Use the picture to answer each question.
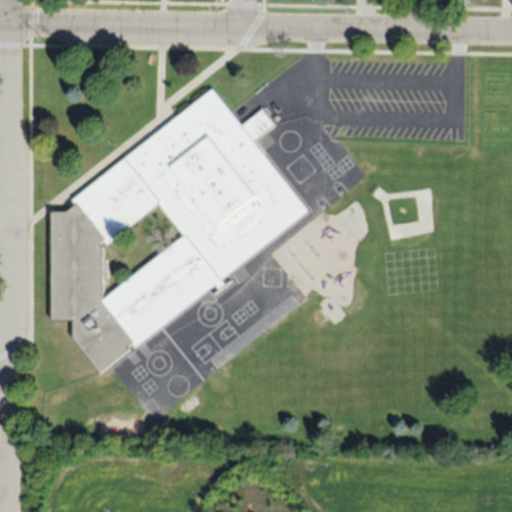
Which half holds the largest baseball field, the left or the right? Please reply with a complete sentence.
You can find the largest baseball field on the right side of the picture.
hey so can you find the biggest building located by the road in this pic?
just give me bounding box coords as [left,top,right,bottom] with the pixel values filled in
[50,90,310,374]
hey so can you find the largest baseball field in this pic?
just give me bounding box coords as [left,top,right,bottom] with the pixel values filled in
[374,187,434,240]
